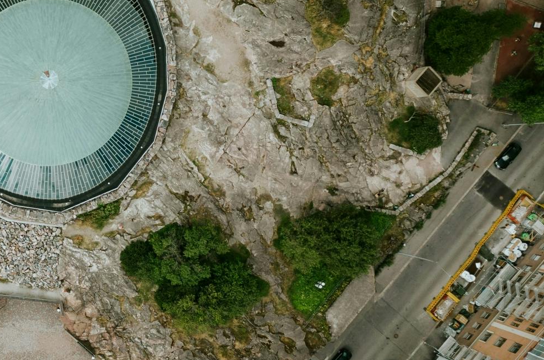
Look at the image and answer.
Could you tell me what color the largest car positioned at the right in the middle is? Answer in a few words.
black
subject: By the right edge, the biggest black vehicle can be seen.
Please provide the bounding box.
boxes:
[496,143,522,170]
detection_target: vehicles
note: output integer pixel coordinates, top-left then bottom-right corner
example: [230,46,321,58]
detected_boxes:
[335,349,353,360]
[496,143,522,170]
